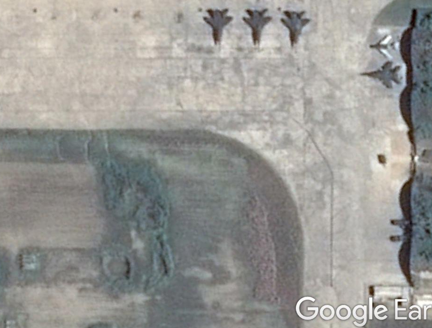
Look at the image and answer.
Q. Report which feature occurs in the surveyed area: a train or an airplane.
airplane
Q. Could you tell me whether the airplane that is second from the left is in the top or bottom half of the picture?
top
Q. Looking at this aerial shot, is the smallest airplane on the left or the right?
right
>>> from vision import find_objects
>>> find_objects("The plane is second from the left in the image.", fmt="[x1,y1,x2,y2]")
[244,8,271,46]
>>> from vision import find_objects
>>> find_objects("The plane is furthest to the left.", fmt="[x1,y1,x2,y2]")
[204,8,232,48]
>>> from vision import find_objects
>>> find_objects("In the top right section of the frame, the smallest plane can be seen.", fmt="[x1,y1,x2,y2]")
[371,35,398,58]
